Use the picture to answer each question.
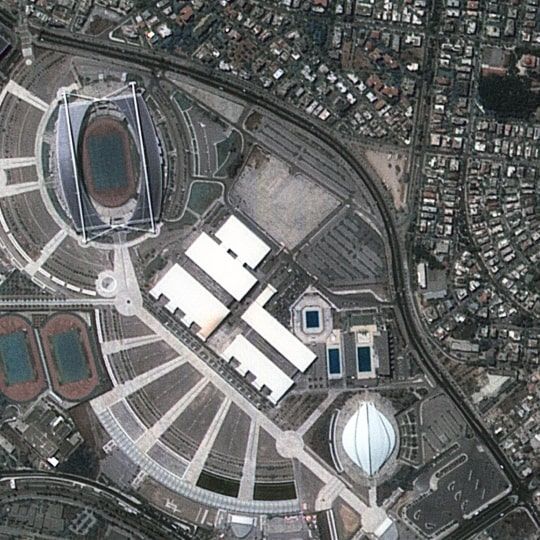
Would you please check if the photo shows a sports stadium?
Yes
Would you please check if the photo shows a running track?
Yes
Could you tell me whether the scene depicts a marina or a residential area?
residential area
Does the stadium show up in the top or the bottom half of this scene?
top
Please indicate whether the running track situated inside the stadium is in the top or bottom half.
top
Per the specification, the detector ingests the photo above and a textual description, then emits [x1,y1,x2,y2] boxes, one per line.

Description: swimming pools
[302,306,323,334]
[326,346,342,378]
[358,345,375,378]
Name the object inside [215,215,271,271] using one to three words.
building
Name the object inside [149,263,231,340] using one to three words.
building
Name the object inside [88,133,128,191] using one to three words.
sports field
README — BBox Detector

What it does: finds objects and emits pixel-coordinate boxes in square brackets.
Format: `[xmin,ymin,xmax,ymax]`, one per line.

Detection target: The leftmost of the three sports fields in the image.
[0,330,35,384]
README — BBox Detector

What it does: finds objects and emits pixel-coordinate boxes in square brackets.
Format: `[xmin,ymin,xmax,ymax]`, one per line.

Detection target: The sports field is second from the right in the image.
[52,330,89,383]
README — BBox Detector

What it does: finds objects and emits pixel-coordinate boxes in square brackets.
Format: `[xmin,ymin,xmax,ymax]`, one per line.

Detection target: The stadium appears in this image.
[51,81,164,243]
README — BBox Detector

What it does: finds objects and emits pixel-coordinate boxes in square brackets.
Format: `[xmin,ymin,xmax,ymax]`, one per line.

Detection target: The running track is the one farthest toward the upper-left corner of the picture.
[81,117,136,209]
